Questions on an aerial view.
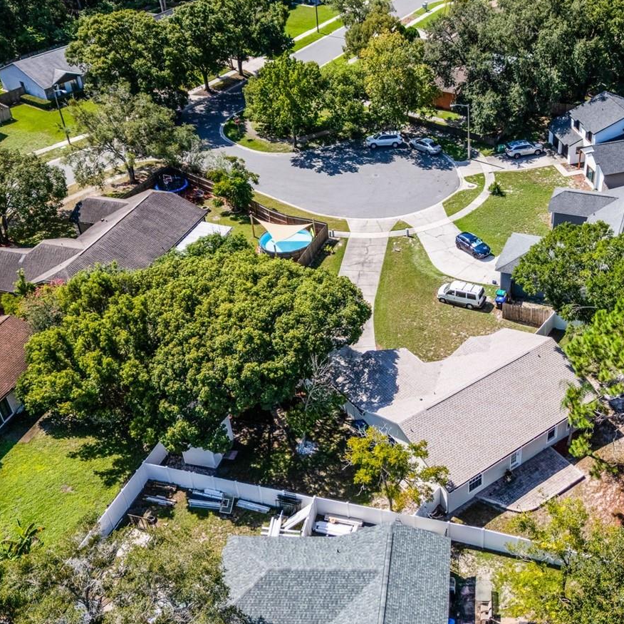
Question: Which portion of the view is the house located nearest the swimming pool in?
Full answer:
Look in the left portion of the view to spot the house located nearest the swimming pool.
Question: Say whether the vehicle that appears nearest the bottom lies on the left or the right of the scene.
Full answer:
The vehicle that appears nearest the bottom appears in the right half of the scene.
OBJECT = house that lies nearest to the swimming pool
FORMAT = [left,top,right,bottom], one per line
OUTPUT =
[0,186,237,318]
